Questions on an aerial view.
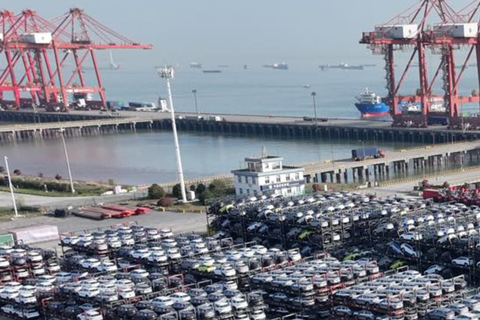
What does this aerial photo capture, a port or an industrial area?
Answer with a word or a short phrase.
port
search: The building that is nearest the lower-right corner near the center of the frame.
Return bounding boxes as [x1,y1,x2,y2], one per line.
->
[229,143,305,194]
